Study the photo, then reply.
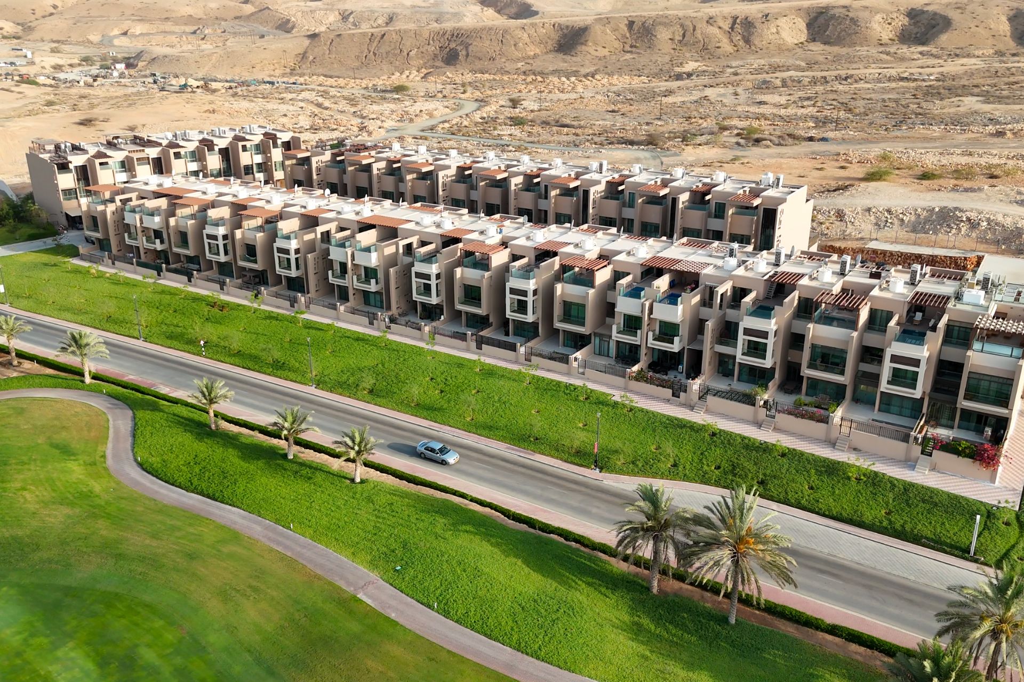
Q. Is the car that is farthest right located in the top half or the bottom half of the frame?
bottom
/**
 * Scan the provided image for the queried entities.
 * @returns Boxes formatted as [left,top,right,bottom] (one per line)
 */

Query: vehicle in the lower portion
[416,439,461,465]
